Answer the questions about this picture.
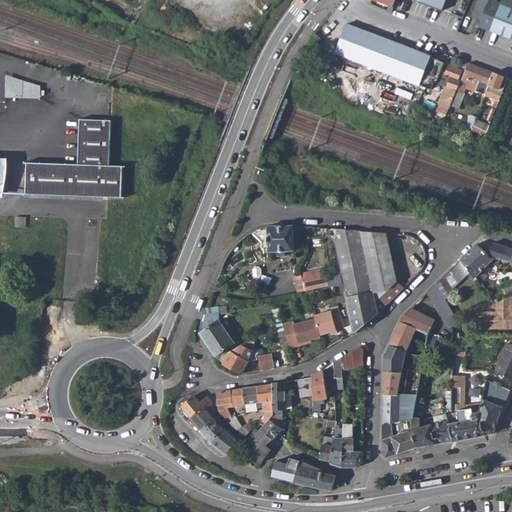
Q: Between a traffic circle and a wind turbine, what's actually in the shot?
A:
traffic circle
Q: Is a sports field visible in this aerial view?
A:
No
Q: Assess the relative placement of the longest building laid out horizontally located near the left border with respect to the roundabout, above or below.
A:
above it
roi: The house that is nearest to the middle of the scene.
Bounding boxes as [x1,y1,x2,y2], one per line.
[266,225,293,253]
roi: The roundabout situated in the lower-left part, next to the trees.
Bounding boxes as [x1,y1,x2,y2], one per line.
[47,338,163,453]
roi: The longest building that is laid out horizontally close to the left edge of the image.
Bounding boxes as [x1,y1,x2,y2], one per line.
[23,163,122,197]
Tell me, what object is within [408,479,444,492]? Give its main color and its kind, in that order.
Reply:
white vehicle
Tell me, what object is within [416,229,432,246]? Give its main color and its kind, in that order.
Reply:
white vehicle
